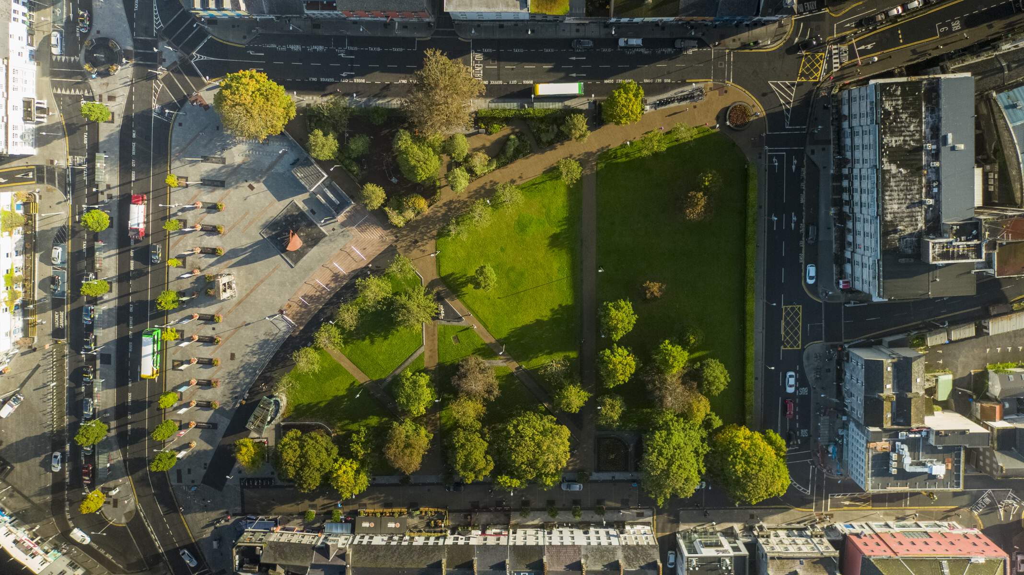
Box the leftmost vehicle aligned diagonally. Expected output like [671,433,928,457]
[0,393,26,417]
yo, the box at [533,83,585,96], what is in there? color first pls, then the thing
white vehicle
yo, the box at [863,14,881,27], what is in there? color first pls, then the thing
black vehicle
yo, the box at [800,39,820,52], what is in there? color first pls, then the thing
black vehicle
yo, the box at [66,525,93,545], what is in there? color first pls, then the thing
white vehicle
